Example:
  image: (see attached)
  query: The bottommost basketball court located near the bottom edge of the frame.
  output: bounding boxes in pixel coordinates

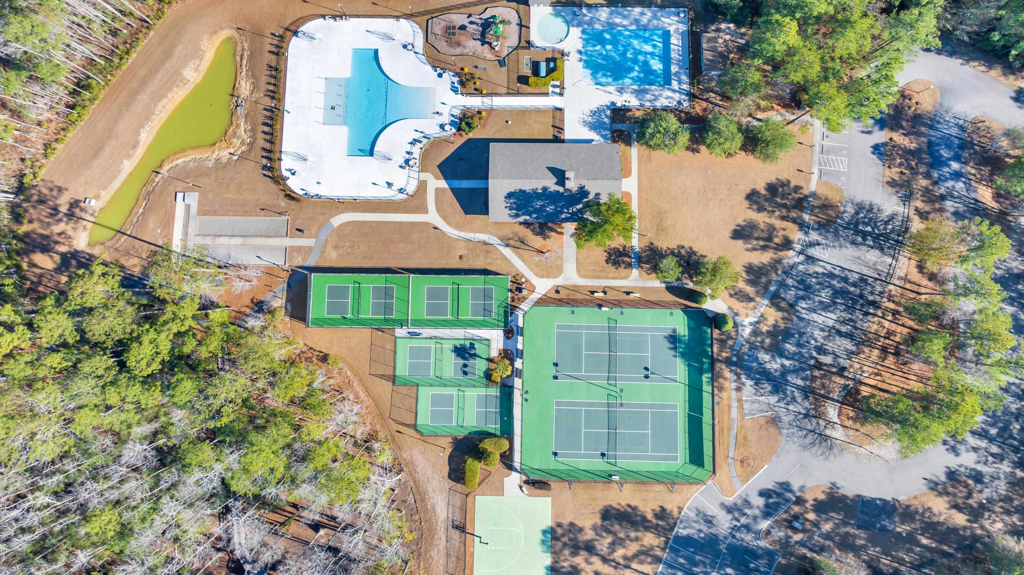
[474,496,551,575]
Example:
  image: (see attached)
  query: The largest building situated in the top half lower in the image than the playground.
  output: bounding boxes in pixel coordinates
[489,142,623,223]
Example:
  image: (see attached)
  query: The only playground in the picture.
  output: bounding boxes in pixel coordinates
[426,5,522,61]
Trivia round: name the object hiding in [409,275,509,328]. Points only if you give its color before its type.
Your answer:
green sports court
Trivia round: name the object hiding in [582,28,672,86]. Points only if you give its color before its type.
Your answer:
blue swimming pool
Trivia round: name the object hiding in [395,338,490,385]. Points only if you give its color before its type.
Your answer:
green sports court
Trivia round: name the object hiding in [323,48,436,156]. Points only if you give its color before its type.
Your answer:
blue swimming pool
